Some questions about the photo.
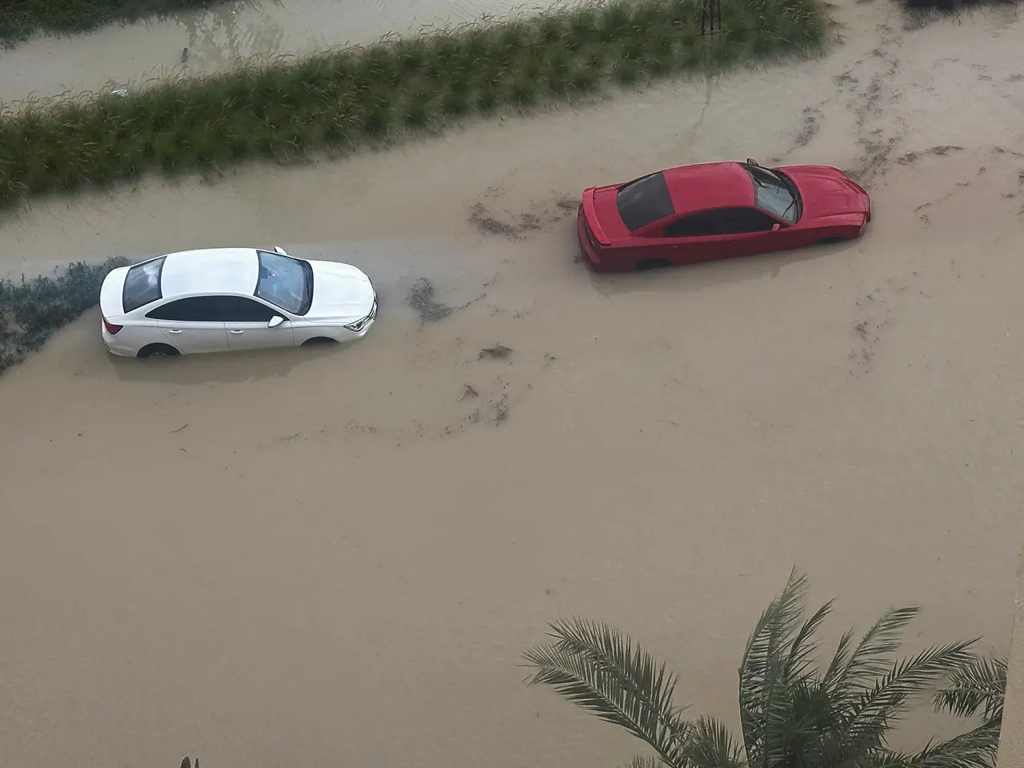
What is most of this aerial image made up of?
water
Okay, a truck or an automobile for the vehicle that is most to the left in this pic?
automobile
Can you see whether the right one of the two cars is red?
Yes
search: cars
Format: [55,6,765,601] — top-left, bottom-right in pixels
[576,157,874,274]
[97,245,378,357]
